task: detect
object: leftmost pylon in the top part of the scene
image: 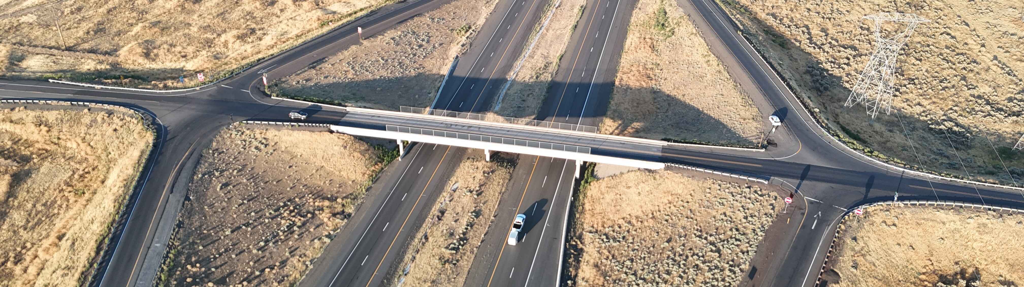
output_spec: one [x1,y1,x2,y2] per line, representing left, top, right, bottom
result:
[846,11,929,116]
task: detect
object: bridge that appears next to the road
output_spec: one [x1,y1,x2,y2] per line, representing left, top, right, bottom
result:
[332,107,673,179]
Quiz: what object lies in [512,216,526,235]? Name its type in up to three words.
vehicle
